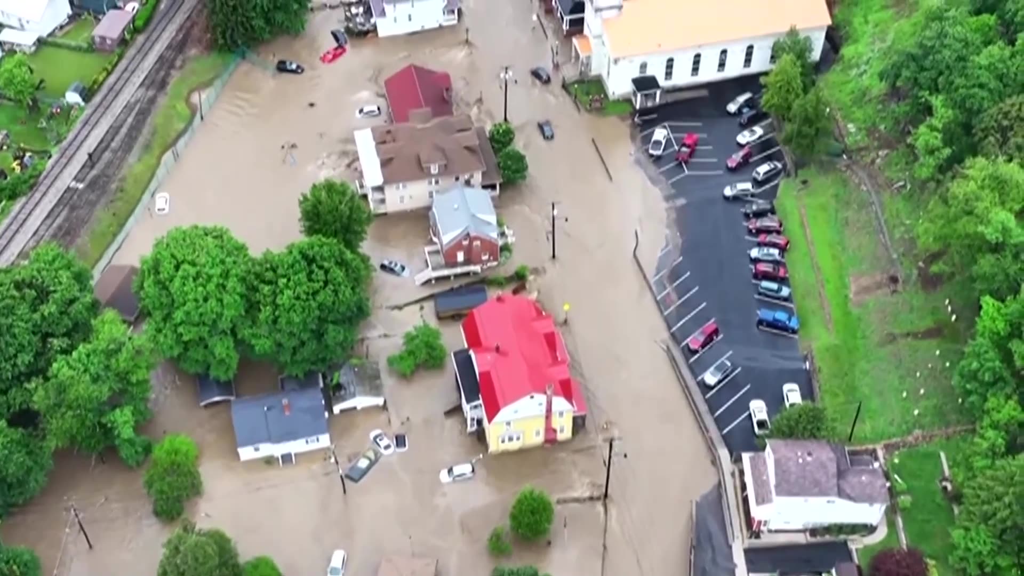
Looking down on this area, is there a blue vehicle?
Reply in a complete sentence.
Yes, there is a blue vehicle in the image.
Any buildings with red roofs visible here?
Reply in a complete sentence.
Yes, there's a building with a red roof down there.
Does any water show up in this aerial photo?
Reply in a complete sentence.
Yes, water shows up in the scene.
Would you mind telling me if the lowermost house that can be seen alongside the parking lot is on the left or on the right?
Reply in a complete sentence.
The lowermost house that can be seen alongside the parking lot appears in the right half of the scene.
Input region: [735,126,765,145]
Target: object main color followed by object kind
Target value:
white car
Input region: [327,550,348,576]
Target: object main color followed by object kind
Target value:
white car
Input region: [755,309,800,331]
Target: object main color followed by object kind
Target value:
blue truck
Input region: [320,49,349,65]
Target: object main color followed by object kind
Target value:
red car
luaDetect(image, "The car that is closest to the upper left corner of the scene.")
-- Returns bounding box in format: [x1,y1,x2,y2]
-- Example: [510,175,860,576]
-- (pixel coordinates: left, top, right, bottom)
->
[155,195,170,218]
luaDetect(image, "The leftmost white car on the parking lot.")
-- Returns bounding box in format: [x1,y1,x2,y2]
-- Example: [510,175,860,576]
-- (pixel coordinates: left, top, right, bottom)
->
[650,129,667,156]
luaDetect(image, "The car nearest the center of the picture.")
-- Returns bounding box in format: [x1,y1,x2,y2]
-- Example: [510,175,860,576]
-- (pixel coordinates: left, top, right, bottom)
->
[378,260,413,282]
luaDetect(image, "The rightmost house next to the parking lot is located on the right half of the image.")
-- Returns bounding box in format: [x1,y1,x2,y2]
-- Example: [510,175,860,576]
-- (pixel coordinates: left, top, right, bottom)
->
[744,444,889,532]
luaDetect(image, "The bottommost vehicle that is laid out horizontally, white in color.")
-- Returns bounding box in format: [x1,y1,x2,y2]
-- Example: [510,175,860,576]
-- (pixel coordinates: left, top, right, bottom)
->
[439,463,476,484]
